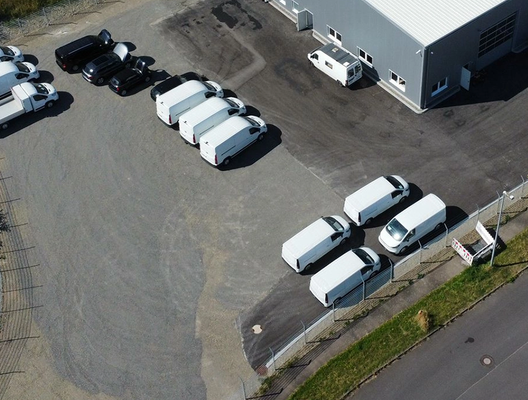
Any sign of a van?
Yes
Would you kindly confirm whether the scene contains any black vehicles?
Yes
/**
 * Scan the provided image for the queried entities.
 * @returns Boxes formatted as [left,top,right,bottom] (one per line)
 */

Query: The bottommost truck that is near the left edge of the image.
[0,80,59,130]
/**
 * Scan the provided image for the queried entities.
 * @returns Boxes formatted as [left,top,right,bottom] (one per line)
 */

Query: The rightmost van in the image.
[378,188,450,255]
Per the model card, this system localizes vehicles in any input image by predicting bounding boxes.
[306,245,383,308]
[198,112,267,166]
[313,41,366,86]
[157,78,224,128]
[280,213,353,275]
[0,80,59,130]
[341,175,411,230]
[155,65,207,96]
[378,188,450,255]
[51,24,115,72]
[179,94,247,146]
[0,42,26,61]
[103,59,151,97]
[0,58,41,96]
[81,39,136,85]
